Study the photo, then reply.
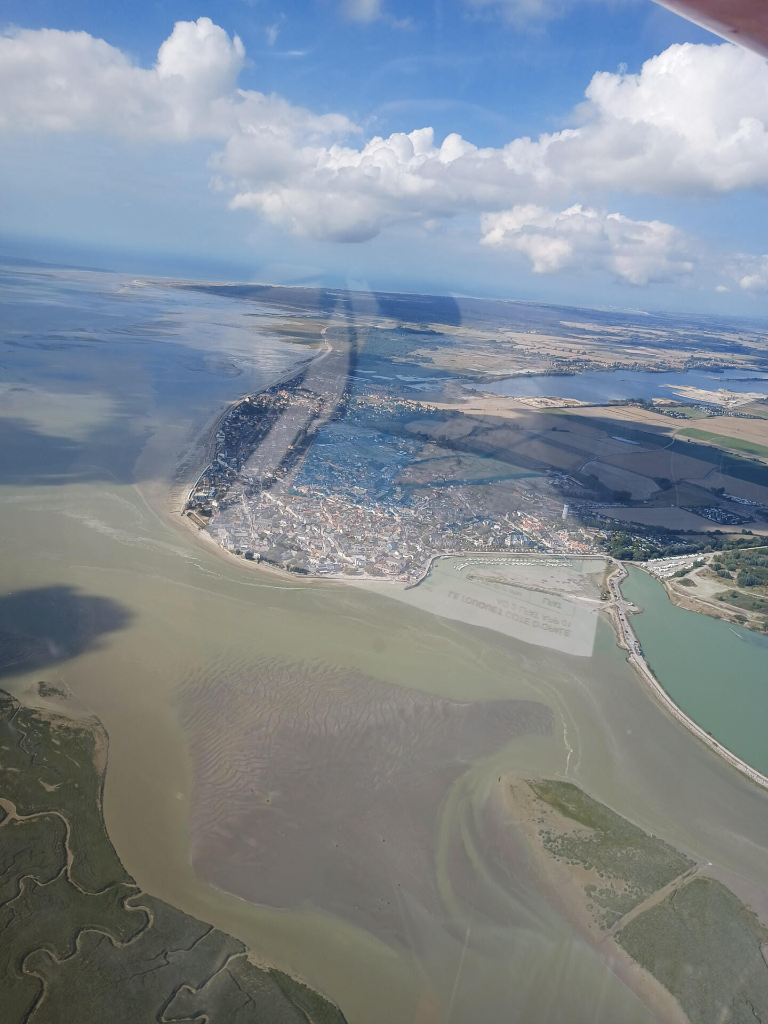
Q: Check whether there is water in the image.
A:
Yes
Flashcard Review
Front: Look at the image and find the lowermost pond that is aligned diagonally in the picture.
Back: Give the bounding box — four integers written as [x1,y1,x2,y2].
[620,566,768,777]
